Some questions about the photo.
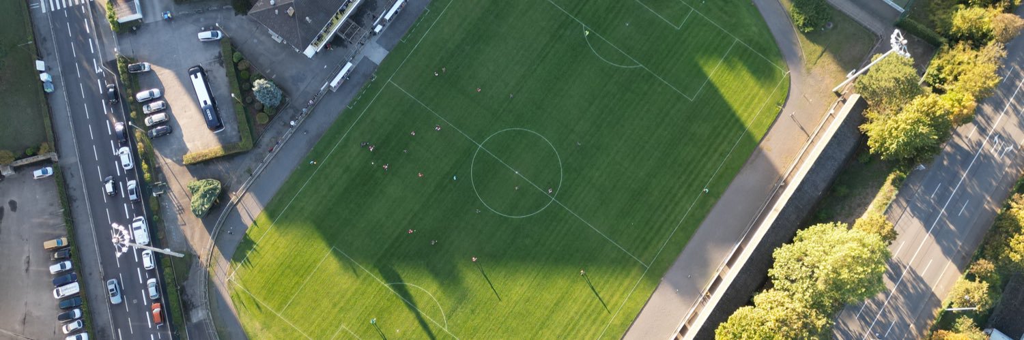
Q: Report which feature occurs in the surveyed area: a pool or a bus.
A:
bus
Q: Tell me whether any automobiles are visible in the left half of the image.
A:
Yes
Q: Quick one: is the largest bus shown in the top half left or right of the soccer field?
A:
left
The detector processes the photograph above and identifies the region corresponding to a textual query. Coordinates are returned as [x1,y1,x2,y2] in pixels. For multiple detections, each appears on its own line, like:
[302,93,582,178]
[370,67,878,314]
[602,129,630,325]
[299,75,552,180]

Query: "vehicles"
[113,121,128,143]
[32,166,53,180]
[118,146,135,171]
[42,236,67,250]
[185,61,228,132]
[105,83,120,105]
[50,247,69,261]
[53,281,79,299]
[145,277,161,301]
[142,99,167,115]
[58,297,78,311]
[144,110,170,126]
[106,278,122,305]
[48,260,72,275]
[64,330,84,340]
[61,319,82,334]
[147,123,173,138]
[135,88,162,103]
[125,178,141,203]
[149,302,165,326]
[140,249,156,272]
[102,175,118,197]
[51,273,74,288]
[129,216,152,245]
[127,61,151,73]
[56,308,80,324]
[197,29,223,42]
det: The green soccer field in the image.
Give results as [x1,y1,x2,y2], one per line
[230,0,791,340]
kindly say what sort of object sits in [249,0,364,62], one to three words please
building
